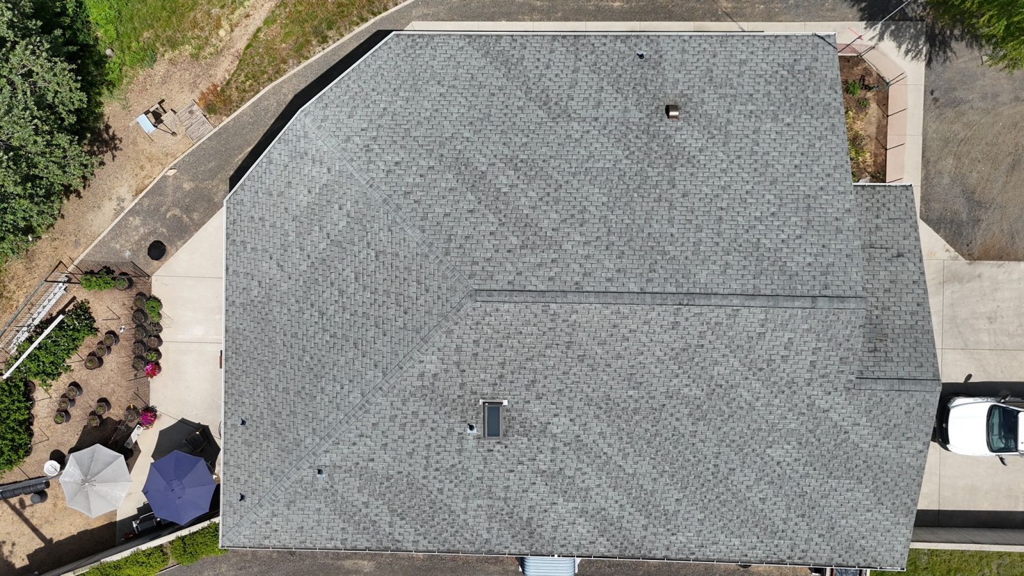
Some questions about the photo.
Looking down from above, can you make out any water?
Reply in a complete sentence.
No, water can't be seen anywhere here.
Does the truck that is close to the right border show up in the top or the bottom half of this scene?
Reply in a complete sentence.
The bottom half of the photo is where the truck that is close to the right border is.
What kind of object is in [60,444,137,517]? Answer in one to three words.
umbrella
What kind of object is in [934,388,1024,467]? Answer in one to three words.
truck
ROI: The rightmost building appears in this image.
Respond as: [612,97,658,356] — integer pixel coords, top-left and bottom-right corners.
[216,29,943,573]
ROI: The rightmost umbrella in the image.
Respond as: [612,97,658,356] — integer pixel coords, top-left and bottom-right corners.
[143,450,217,525]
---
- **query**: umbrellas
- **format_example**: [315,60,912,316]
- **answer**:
[143,450,217,525]
[60,444,137,517]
